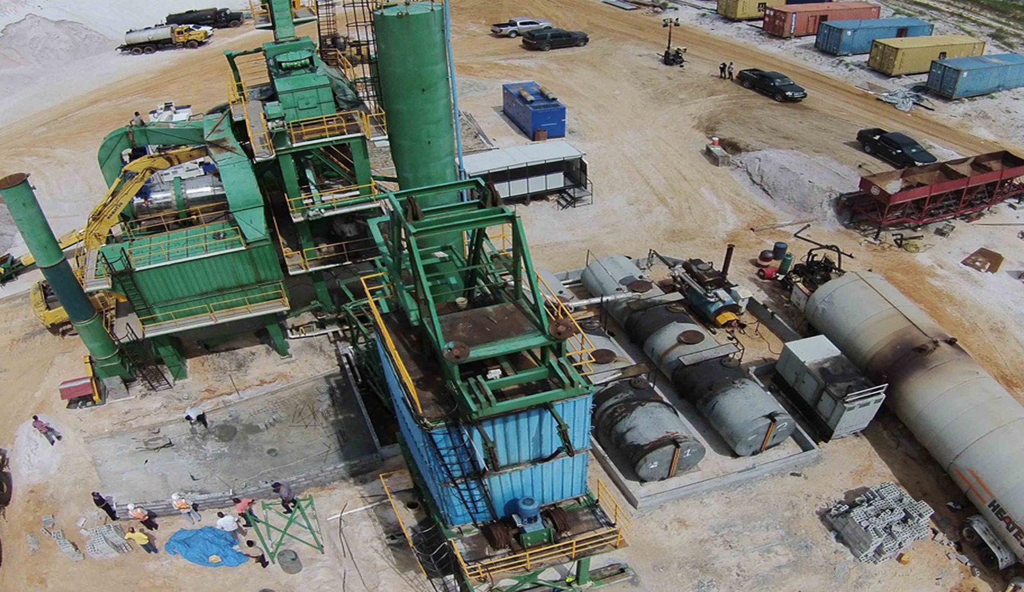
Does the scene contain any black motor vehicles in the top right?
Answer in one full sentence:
Yes, in the top right there is a black motor vehicle.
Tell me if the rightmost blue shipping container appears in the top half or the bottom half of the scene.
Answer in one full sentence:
Seen from above, the rightmost blue shipping container lies in the top half of the view.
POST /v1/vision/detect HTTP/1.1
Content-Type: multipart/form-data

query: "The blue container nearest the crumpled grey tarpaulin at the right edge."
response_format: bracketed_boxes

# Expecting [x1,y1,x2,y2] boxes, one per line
[927,43,1024,99]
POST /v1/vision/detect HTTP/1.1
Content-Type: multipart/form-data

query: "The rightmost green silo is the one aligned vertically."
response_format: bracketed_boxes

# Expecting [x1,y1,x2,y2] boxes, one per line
[346,0,467,261]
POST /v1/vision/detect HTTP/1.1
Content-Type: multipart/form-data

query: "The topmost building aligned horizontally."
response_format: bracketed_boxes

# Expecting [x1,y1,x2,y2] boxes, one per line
[456,136,597,204]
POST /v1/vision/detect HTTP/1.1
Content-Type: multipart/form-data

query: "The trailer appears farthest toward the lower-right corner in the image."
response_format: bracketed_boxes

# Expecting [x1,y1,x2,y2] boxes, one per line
[806,270,1024,592]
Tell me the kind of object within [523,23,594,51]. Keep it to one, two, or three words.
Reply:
car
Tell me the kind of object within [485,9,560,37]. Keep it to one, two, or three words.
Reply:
truck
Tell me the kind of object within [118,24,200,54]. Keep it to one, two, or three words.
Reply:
truck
